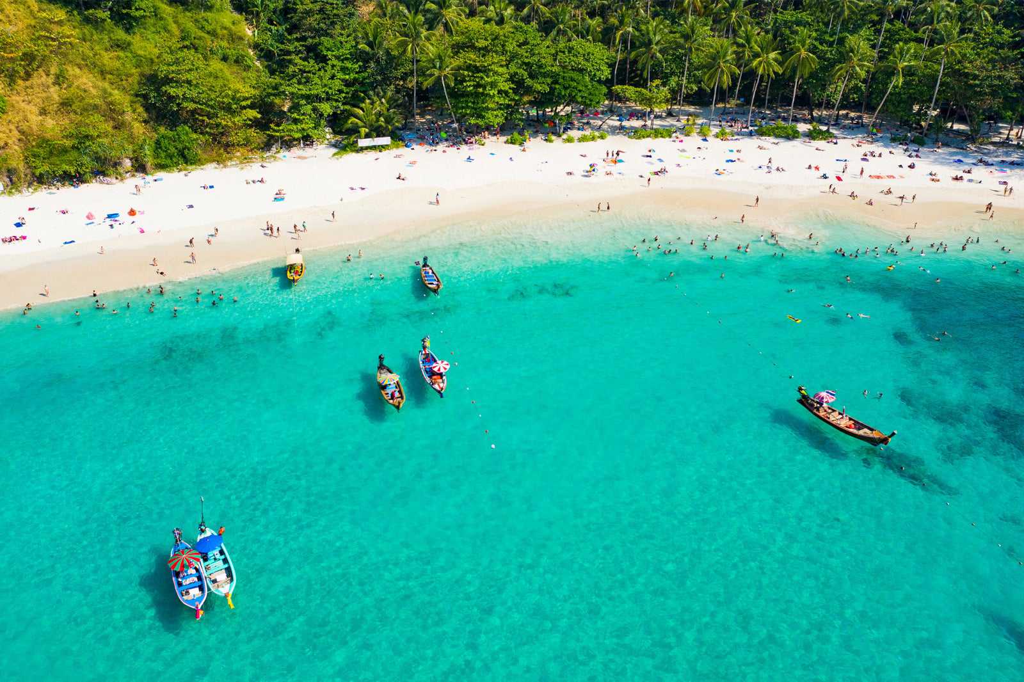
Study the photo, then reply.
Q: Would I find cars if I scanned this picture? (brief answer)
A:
No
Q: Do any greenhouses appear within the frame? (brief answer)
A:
No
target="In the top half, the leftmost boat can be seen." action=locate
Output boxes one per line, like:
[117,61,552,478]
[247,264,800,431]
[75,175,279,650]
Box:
[284,242,306,282]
